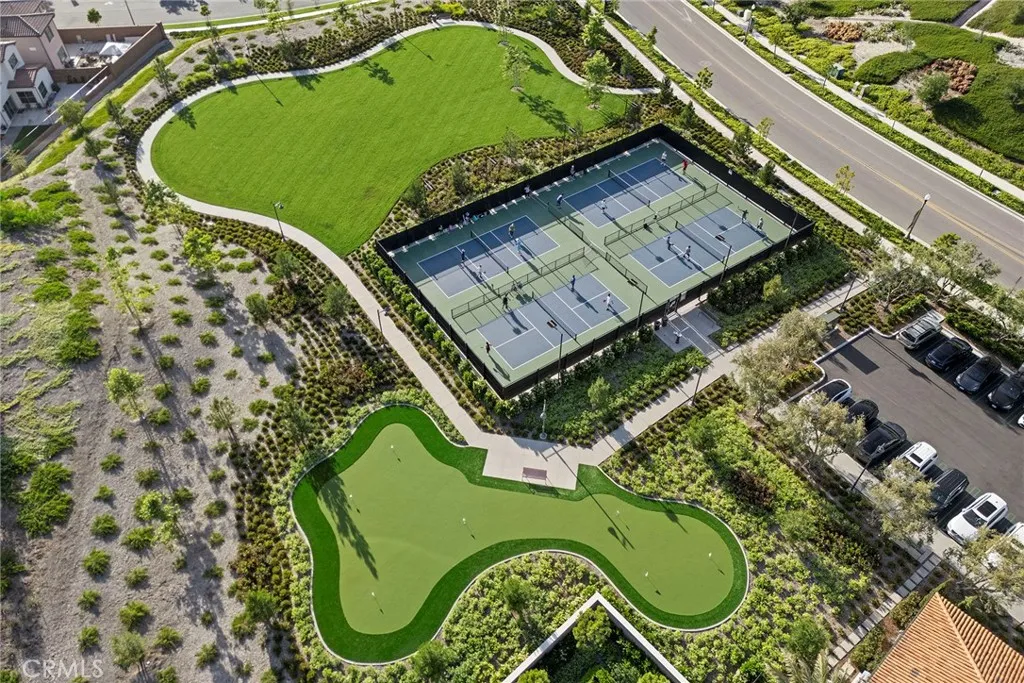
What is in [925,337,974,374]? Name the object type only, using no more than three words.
car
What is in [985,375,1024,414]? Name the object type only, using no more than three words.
car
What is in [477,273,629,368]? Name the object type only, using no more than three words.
sports court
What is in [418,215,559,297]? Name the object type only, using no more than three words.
sports court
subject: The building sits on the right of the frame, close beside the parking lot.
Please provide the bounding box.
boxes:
[867,591,1024,683]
